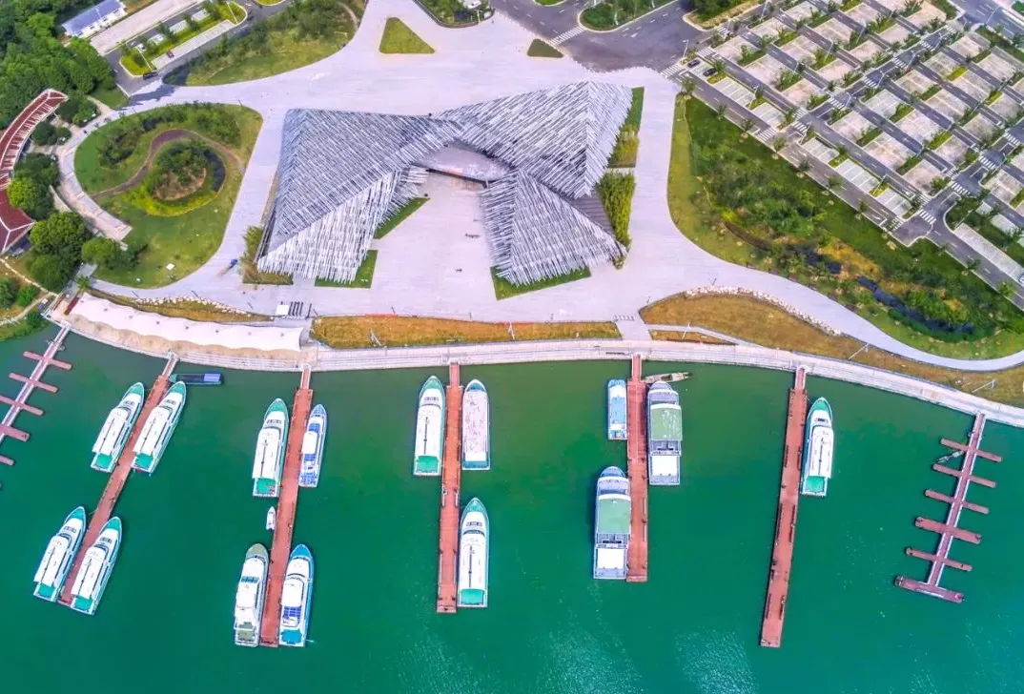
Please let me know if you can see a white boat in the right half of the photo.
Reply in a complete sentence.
Yes, I can see a white boat in the right half of the photo.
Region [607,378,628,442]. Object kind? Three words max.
vessel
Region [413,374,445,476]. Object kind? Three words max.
boat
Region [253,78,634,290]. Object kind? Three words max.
building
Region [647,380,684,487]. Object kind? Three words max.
ship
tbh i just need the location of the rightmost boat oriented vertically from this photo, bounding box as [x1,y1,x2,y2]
[799,396,836,500]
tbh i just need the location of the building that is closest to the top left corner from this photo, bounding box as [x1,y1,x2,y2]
[60,0,128,39]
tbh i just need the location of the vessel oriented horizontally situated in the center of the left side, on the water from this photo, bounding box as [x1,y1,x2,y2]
[171,372,223,384]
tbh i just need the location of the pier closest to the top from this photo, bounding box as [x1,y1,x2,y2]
[0,323,74,465]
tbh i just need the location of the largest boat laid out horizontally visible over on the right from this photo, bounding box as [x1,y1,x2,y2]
[644,371,691,383]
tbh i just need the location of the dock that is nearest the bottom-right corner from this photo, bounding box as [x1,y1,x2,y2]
[895,409,1002,602]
